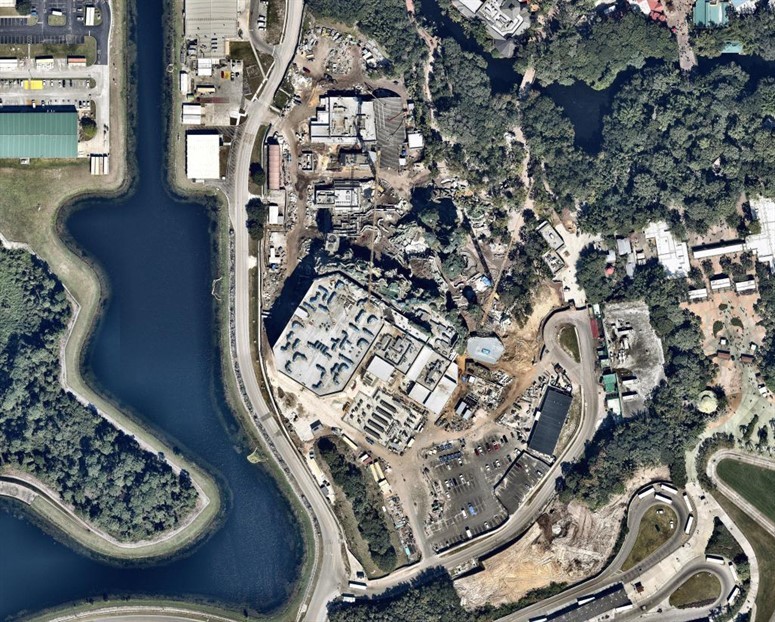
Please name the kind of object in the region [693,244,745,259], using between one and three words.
building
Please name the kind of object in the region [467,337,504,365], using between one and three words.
building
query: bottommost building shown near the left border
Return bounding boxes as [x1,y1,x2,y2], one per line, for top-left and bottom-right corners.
[0,111,78,158]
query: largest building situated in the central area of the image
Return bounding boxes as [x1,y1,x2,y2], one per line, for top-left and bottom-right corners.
[272,273,384,397]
